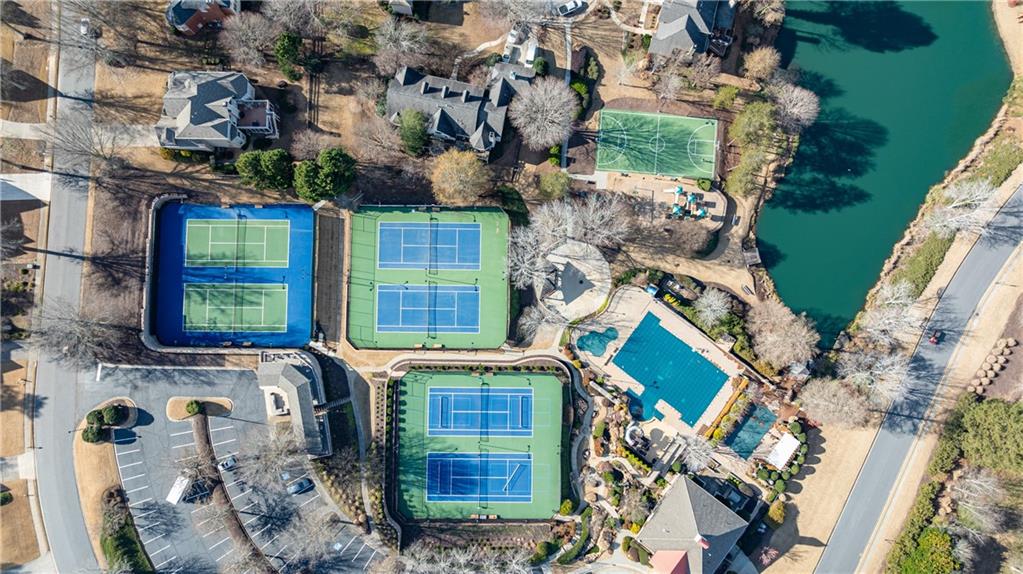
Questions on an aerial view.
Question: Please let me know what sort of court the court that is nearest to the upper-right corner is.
basketball court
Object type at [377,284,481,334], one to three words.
tennis court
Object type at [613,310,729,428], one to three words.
swimming pool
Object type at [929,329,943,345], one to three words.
vehicle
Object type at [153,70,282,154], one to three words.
house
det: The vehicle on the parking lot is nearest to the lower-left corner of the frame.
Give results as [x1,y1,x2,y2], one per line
[161,476,187,508]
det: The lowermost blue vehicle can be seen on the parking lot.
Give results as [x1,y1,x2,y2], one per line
[289,480,311,493]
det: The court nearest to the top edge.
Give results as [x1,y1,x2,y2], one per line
[597,110,717,179]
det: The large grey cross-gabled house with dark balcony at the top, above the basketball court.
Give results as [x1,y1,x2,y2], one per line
[643,0,739,61]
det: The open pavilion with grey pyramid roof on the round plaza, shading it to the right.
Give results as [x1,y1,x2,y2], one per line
[529,263,573,304]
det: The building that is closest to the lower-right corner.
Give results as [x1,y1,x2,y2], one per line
[761,430,800,470]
